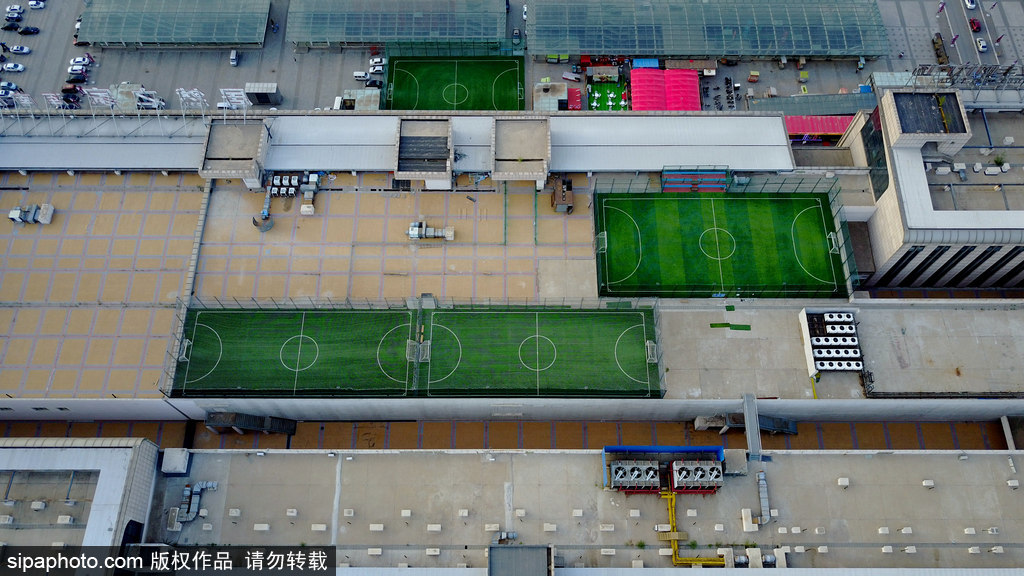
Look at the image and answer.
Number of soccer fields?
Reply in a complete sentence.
In total, there are 4 soccer fields in the scene.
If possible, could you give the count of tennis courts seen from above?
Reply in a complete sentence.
The count of tennis courts is 0.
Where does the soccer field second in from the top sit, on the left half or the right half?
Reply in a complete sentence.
You can find the soccer field second in from the top on the right side of the picture.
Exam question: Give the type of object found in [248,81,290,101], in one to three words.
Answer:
shed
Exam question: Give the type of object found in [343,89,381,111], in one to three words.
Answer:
shed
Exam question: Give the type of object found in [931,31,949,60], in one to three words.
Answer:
vehicle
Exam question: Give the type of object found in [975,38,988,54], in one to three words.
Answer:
vehicle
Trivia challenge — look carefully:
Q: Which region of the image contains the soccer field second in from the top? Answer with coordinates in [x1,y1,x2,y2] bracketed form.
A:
[598,194,848,286]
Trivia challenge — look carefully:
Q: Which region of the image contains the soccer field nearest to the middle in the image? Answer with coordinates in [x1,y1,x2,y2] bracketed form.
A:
[418,309,664,398]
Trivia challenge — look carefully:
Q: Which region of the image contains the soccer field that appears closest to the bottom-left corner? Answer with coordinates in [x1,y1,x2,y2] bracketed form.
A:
[174,308,422,388]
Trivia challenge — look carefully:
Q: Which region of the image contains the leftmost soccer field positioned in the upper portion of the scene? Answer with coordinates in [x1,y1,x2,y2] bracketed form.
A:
[384,56,525,111]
